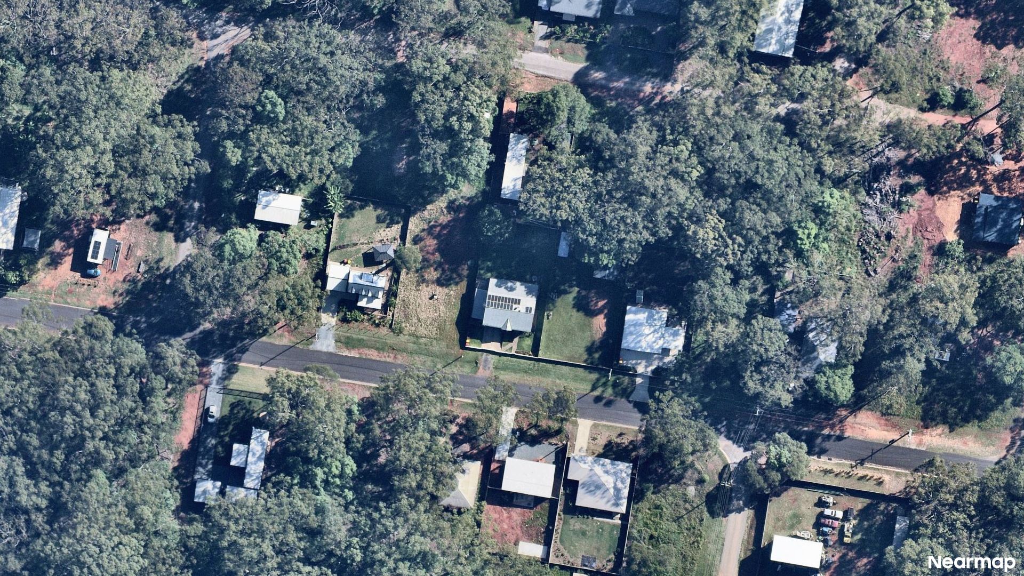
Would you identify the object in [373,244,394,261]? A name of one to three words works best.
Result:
gazebo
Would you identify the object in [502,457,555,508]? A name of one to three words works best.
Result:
house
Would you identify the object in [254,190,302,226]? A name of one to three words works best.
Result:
house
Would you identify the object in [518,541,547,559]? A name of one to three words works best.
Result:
shed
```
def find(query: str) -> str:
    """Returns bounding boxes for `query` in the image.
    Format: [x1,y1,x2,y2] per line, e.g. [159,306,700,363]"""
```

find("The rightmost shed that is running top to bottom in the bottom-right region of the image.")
[893,516,909,547]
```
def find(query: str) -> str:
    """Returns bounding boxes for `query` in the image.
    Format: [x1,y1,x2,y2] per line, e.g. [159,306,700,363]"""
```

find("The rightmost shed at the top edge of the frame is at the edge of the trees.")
[754,0,804,57]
